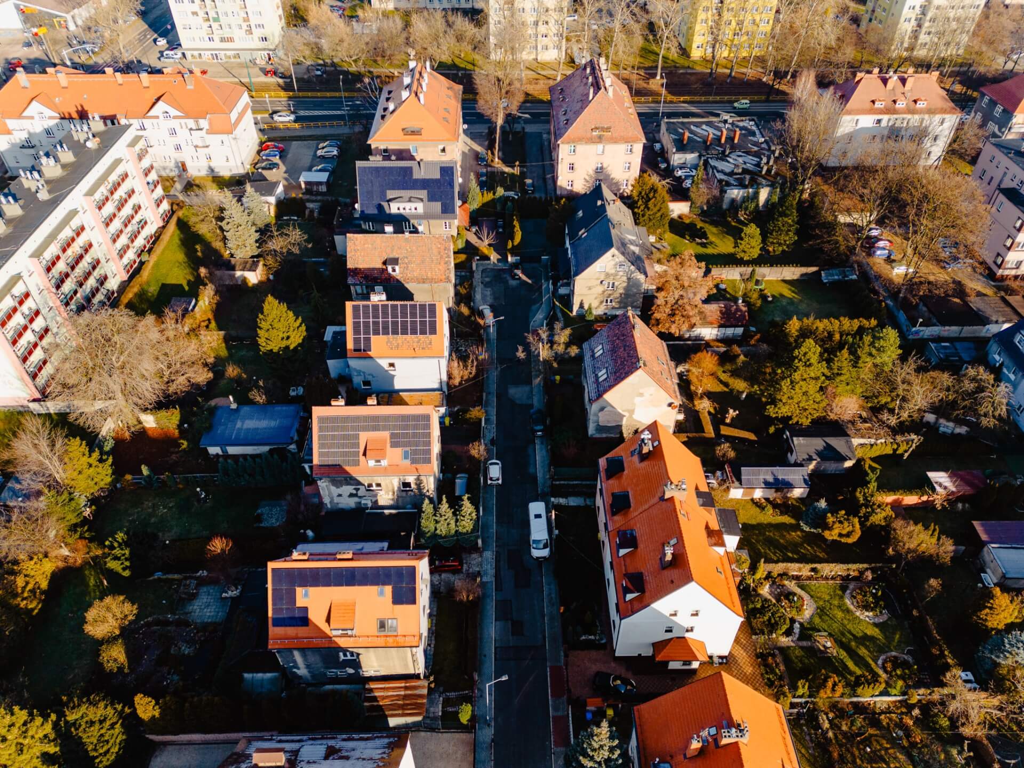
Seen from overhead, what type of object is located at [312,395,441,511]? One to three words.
house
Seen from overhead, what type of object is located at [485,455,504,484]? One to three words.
car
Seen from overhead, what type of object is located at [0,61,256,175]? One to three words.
building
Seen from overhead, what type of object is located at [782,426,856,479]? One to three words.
shed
